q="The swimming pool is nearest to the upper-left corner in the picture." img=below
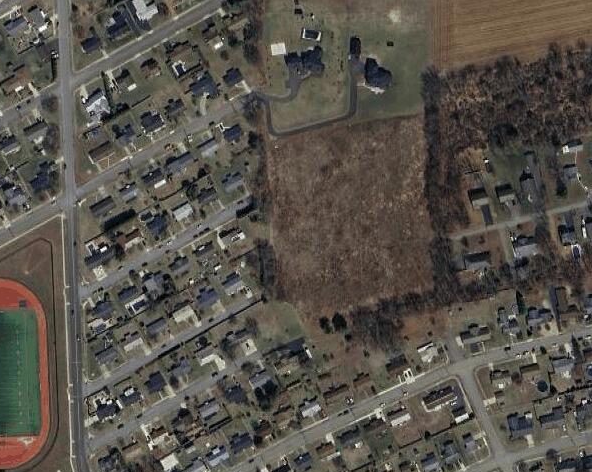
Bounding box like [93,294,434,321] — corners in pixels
[172,60,189,78]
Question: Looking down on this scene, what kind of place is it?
residential area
